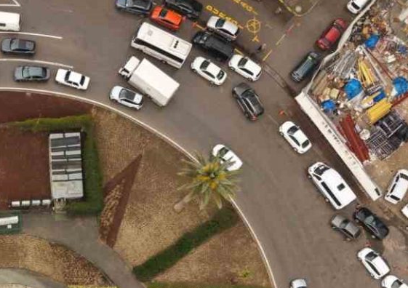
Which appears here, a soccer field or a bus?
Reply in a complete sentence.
This aerial view contains a bus.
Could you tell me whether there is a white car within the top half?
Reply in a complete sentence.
Yes, a white car appears within the top half.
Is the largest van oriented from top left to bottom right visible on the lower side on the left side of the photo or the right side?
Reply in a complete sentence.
The largest van oriented from top left to bottom right visible on the lower side is on the right side of the image.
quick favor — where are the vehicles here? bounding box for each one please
[191,57,228,85]
[205,15,239,40]
[345,0,368,16]
[277,120,313,154]
[380,275,408,288]
[116,0,154,15]
[55,69,89,89]
[129,22,193,69]
[1,36,36,56]
[329,215,363,241]
[227,55,262,82]
[13,64,49,83]
[211,143,244,173]
[304,164,360,211]
[399,202,408,220]
[108,86,143,109]
[192,33,235,62]
[232,84,265,121]
[351,207,392,240]
[290,280,307,288]
[383,168,408,205]
[151,8,184,31]
[163,0,204,20]
[356,247,393,280]
[0,11,20,32]
[117,56,181,108]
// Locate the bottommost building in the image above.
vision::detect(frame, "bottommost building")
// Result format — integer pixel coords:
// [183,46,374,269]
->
[47,131,85,203]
